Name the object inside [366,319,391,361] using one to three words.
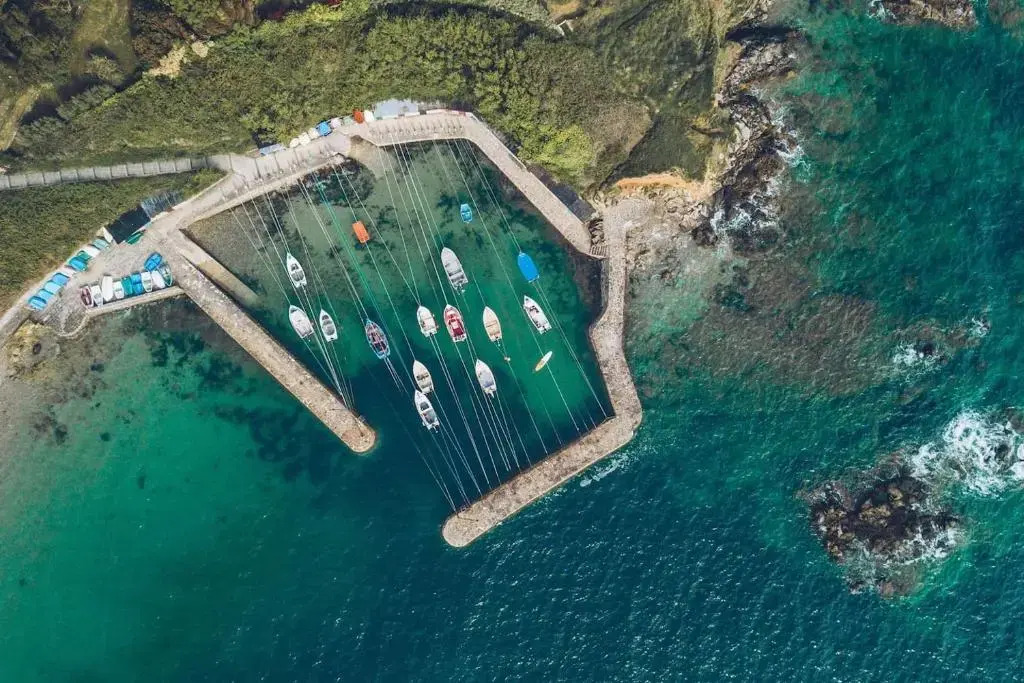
boat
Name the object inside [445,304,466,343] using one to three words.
boat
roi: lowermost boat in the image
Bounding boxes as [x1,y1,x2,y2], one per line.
[416,390,440,432]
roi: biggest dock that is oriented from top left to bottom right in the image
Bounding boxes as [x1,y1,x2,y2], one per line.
[185,256,380,453]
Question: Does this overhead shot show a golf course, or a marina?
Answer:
marina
